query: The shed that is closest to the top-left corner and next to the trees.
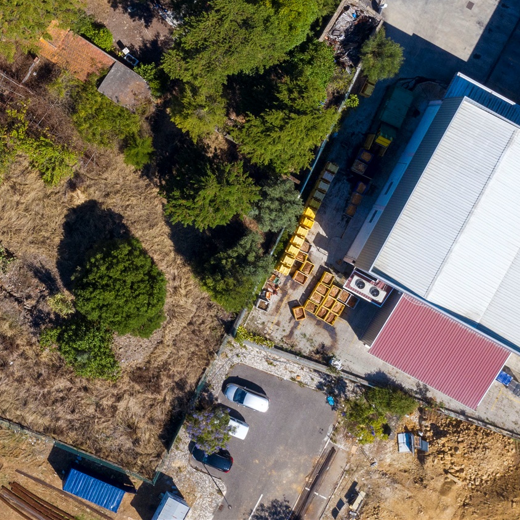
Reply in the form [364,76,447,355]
[40,23,116,80]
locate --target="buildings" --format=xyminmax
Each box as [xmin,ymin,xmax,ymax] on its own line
[337,95,520,355]
[98,62,151,108]
[144,483,190,520]
[40,23,116,80]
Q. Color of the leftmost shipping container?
blue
